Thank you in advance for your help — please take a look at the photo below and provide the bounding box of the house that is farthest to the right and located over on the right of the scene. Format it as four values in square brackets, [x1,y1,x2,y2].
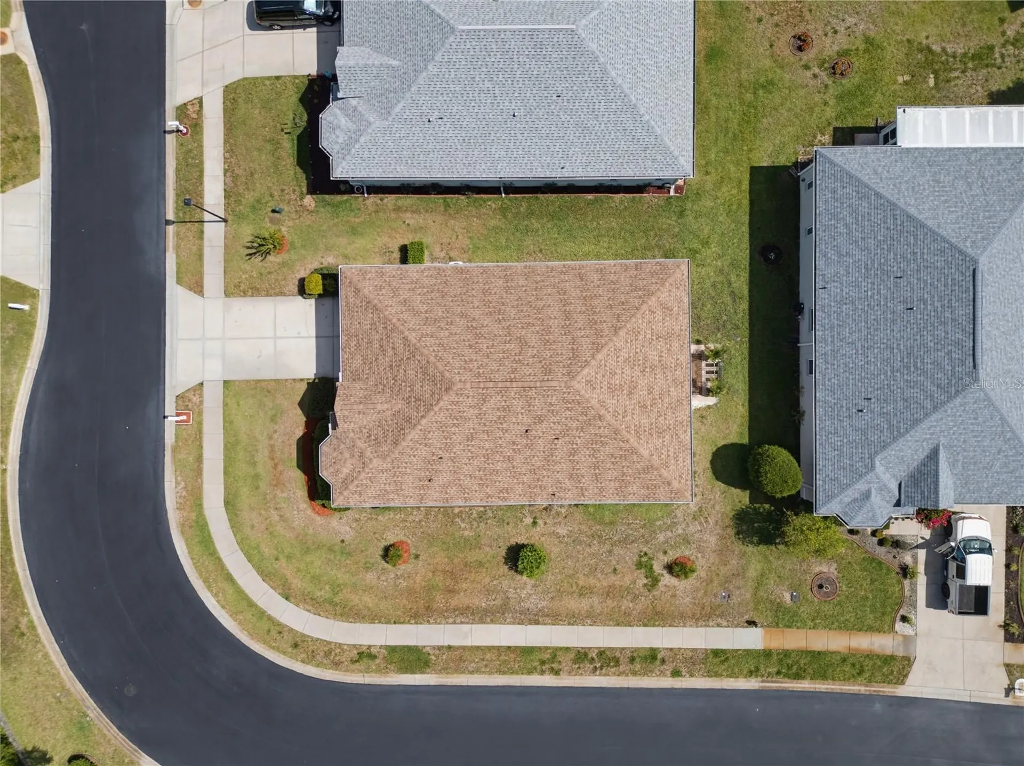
[790,105,1024,528]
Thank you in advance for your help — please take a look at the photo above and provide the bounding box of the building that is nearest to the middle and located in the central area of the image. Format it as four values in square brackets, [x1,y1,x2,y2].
[319,260,693,508]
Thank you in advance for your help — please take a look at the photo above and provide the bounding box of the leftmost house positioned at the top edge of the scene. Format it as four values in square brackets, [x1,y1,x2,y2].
[319,0,695,193]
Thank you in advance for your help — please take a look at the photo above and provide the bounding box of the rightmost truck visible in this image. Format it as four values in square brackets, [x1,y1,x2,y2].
[930,513,994,616]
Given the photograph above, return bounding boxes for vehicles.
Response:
[930,513,994,616]
[253,0,342,25]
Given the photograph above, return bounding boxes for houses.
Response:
[790,105,1024,528]
[319,260,693,508]
[319,0,695,193]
